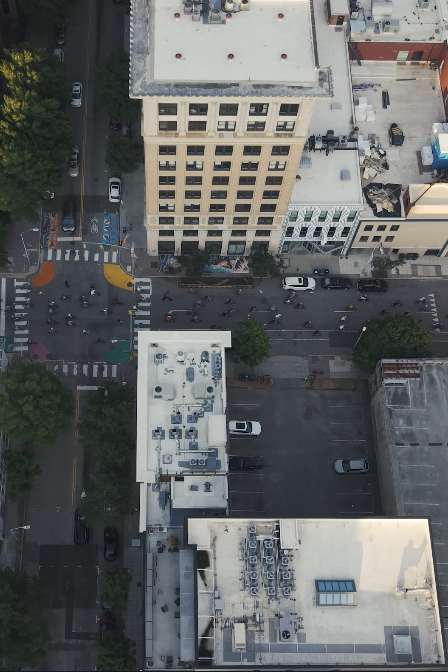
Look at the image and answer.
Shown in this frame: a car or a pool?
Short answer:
car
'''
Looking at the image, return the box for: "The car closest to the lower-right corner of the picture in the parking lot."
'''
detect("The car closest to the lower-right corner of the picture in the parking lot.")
[331,457,370,476]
